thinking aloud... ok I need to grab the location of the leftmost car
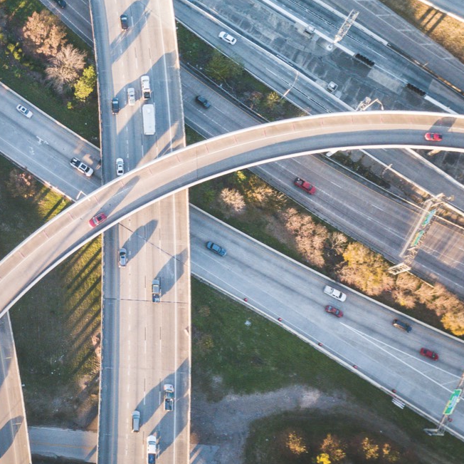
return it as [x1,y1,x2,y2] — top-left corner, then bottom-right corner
[14,102,33,119]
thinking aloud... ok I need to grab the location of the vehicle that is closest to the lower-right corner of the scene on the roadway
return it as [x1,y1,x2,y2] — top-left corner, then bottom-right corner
[417,345,440,361]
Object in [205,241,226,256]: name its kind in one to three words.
car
